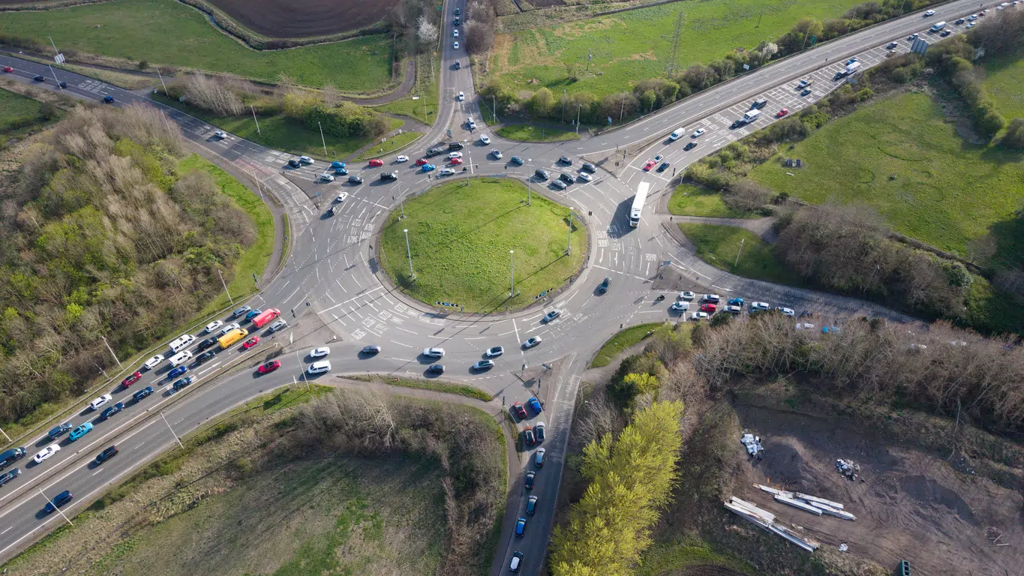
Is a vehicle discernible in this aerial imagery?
Yes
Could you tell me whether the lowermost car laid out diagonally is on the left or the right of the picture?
left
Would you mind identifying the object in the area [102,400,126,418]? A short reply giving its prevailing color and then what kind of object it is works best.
blue car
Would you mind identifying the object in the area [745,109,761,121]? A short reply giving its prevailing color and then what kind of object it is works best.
white vehicle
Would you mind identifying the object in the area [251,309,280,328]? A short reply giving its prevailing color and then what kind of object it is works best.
red vehicle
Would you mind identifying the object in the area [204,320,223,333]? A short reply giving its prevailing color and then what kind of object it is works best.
white vehicle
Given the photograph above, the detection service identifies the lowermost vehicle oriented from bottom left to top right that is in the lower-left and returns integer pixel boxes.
[46,491,71,511]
